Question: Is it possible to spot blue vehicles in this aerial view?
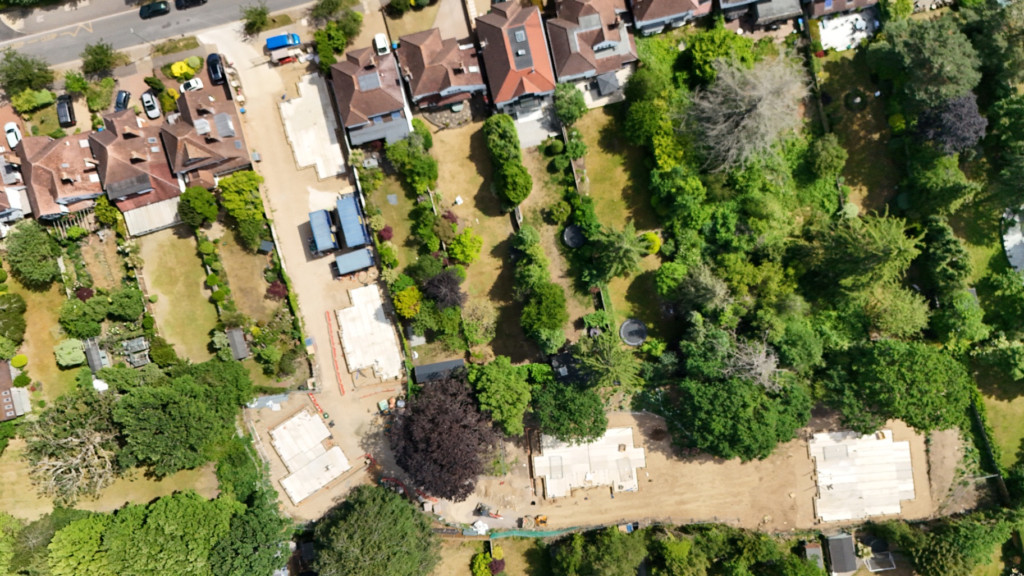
Yes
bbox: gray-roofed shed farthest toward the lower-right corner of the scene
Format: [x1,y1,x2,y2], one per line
[823,532,857,573]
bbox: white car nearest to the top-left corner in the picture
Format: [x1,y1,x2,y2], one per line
[5,121,22,149]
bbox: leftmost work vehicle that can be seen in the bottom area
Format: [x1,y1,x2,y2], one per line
[477,501,506,520]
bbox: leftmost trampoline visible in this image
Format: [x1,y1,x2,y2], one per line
[563,226,584,247]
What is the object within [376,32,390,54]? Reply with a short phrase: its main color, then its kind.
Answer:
white car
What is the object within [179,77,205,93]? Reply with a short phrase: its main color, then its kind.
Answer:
white car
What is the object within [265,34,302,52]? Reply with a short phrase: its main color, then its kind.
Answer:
blue vehicle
